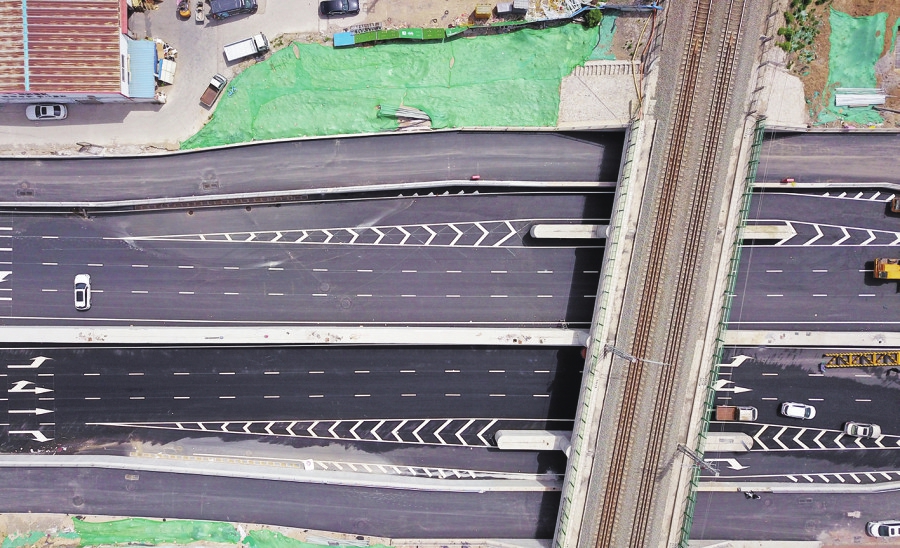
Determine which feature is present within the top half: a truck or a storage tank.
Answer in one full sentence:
The one visible within the top half is a truck.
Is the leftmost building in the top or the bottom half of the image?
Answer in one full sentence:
The leftmost building is in the top half of the image.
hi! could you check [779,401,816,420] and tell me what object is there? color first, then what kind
white car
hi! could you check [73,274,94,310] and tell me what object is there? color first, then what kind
white car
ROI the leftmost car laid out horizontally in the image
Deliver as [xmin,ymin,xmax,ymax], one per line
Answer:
[28,104,69,121]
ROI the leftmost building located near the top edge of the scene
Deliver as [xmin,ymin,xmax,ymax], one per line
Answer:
[0,0,143,102]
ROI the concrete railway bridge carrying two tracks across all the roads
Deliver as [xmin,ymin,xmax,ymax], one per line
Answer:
[541,0,763,548]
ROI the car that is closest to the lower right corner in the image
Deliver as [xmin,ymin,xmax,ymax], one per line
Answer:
[865,518,900,538]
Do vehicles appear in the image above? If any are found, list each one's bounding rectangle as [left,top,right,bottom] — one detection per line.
[865,518,900,538]
[779,401,816,420]
[715,405,758,423]
[205,0,260,23]
[73,274,94,310]
[866,257,900,288]
[200,74,228,108]
[321,0,359,15]
[28,104,69,121]
[842,420,881,438]
[221,31,274,63]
